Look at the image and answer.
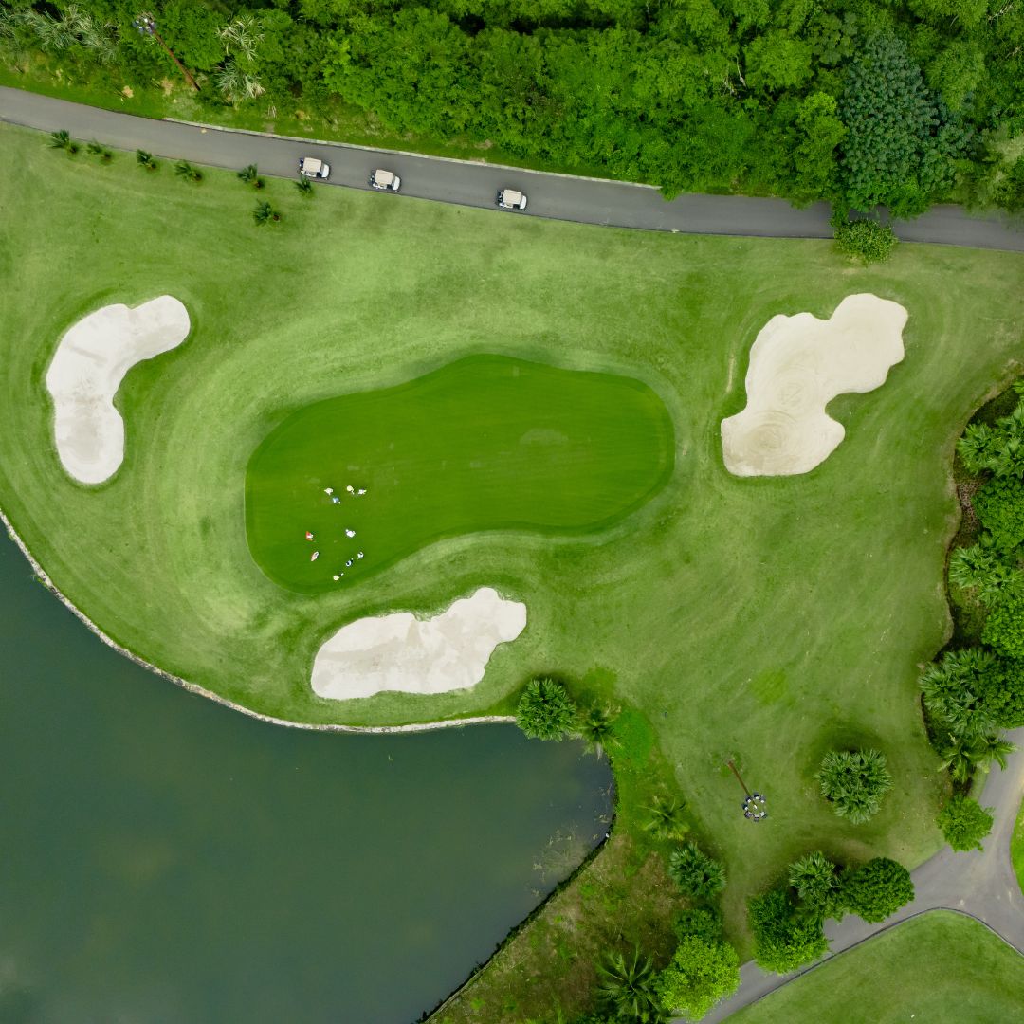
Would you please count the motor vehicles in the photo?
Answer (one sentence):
In total, 3 motor vehicles can be seen.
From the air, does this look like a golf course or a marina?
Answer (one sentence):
What you see here is a golf course.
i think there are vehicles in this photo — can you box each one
[497,190,529,215]
[301,156,333,182]
[371,171,402,197]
